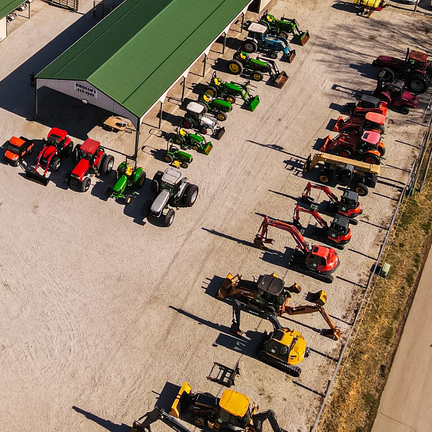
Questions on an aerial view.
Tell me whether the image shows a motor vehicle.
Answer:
Yes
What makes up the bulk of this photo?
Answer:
paved ground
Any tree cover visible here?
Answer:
No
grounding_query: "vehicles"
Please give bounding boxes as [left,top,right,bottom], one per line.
[201,75,254,111]
[287,148,384,200]
[164,144,195,170]
[292,205,351,247]
[228,52,280,87]
[173,127,214,155]
[167,384,286,432]
[187,107,224,139]
[333,85,391,120]
[29,125,74,182]
[198,94,235,120]
[242,25,298,64]
[379,72,420,114]
[291,177,366,222]
[126,400,201,432]
[261,14,301,41]
[215,270,344,334]
[107,160,145,204]
[254,214,344,285]
[61,137,112,192]
[140,167,197,228]
[326,132,393,168]
[230,295,318,372]
[4,138,34,166]
[370,49,432,100]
